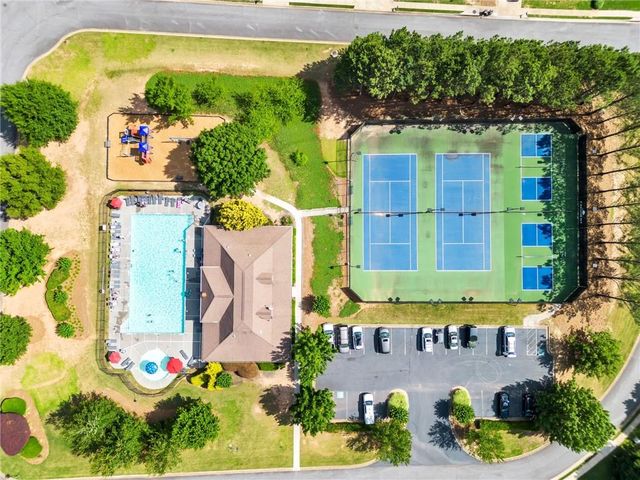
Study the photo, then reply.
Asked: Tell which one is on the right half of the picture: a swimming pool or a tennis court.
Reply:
tennis court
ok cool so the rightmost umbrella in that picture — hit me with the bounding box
[167,357,184,374]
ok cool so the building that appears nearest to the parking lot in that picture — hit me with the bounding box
[200,224,293,362]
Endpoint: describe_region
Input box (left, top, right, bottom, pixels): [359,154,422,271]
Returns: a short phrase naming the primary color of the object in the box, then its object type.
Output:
blue tennis court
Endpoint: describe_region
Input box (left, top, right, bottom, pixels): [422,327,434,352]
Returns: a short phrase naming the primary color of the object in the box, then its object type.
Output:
white vehicle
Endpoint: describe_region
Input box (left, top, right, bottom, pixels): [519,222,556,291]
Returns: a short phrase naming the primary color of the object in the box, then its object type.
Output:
blue sports court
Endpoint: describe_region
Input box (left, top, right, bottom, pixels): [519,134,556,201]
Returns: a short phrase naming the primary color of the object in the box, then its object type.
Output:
blue sports court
